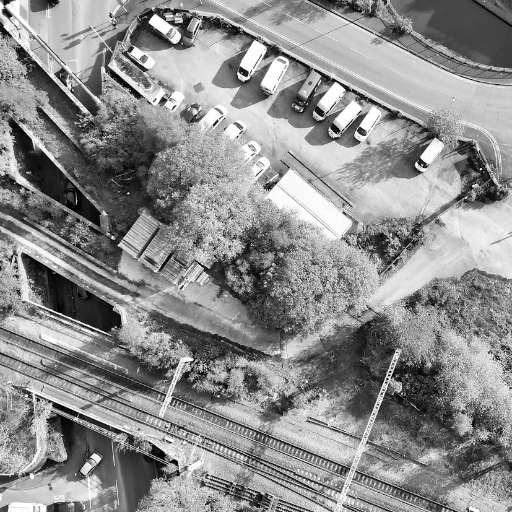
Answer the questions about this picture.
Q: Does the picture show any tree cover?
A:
Yes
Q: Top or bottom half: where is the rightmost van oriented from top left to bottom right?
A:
top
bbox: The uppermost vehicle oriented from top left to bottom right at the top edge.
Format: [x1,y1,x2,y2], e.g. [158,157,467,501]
[147,9,182,47]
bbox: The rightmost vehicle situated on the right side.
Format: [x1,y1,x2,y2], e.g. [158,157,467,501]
[415,137,444,174]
